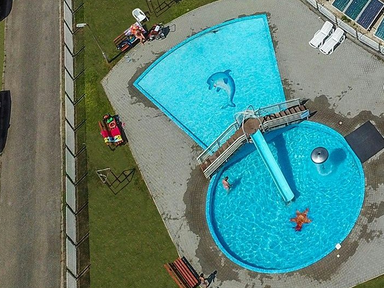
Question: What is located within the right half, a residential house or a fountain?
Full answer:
It is a fountain that can be seen within the right half.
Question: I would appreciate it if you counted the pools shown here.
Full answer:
Looking from above, you can make out 2 pools.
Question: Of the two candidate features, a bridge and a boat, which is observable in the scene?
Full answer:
The one in the frame is a bridge.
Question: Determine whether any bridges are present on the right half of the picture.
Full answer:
Yes, the scene does show a bridge on the right half of the picture.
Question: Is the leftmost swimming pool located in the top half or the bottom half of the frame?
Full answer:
The top half of the photo is where the leftmost swimming pool is.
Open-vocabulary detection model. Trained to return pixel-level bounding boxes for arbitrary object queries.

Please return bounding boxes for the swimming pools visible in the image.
[207,120,367,274]
[135,14,285,159]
